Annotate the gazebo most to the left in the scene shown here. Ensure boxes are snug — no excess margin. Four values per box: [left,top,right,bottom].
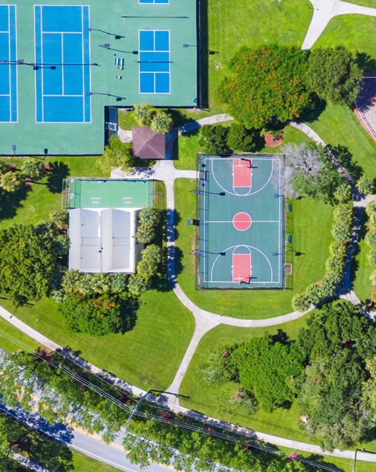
[132,127,170,159]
